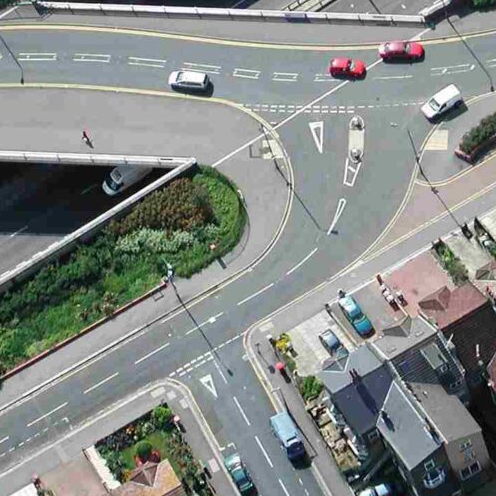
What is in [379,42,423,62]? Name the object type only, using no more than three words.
car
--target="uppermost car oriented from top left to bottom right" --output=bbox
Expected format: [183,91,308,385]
[340,296,375,338]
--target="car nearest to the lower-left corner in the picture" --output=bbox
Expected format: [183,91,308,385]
[227,454,257,496]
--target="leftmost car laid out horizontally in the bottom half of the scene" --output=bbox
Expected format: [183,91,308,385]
[359,479,400,496]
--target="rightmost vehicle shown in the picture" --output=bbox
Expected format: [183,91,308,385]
[423,85,464,122]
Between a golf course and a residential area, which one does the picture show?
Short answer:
residential area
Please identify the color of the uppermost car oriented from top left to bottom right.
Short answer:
blue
